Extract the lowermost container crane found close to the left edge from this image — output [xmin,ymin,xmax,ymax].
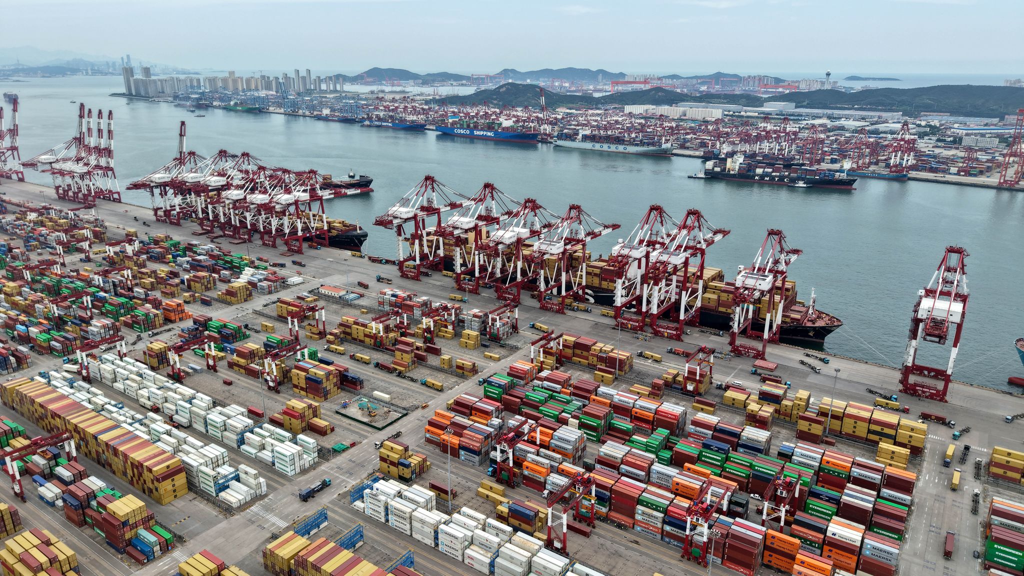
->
[5,424,86,500]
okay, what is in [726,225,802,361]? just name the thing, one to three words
container crane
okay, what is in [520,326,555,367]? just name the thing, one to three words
container crane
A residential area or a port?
port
